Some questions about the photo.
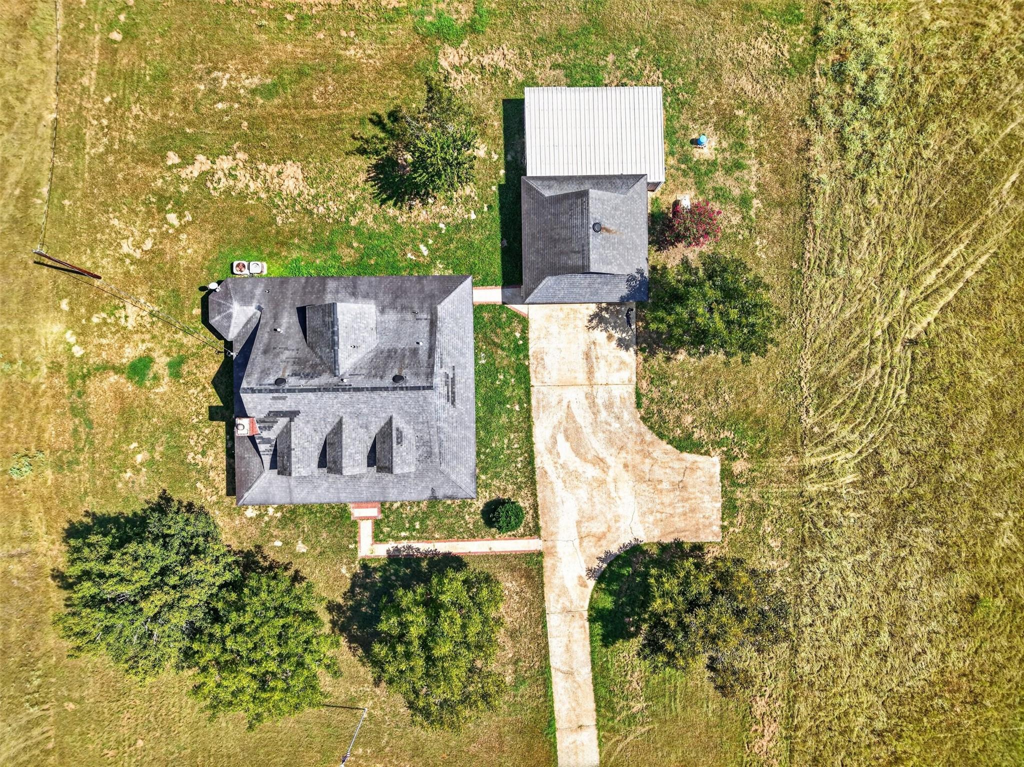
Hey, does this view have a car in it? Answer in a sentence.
No, this view has no car in it.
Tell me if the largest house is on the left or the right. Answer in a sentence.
You can find the largest house on the left side of the picture.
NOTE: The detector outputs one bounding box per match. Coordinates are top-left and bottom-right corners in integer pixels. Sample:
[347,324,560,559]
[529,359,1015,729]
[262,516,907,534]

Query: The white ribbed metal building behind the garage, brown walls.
[525,86,665,191]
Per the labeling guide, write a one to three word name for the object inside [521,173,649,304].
building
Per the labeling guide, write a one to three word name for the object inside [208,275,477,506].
house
